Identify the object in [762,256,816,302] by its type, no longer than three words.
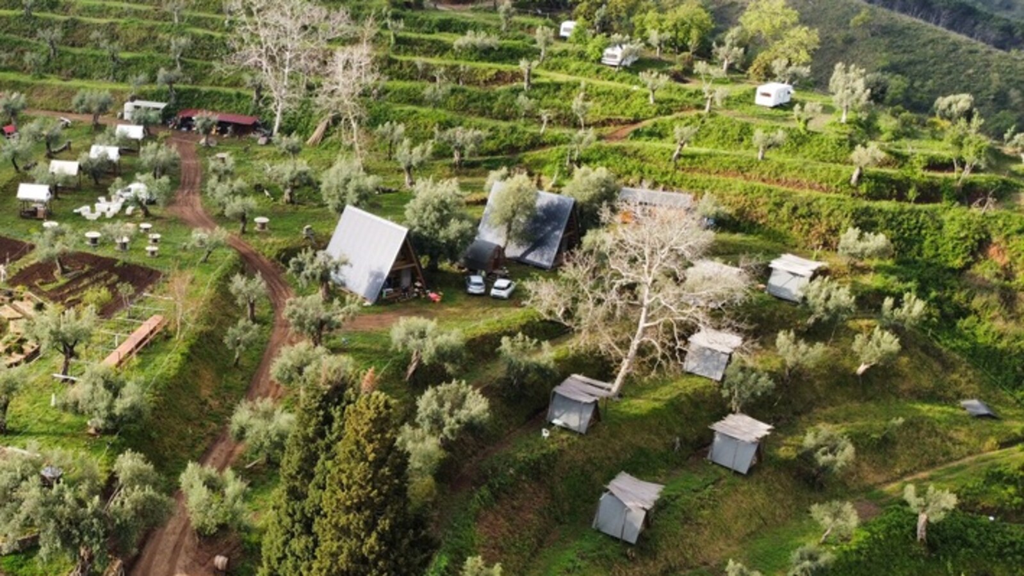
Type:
building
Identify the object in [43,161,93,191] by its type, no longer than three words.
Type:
shed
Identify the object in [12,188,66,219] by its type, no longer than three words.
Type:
shed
